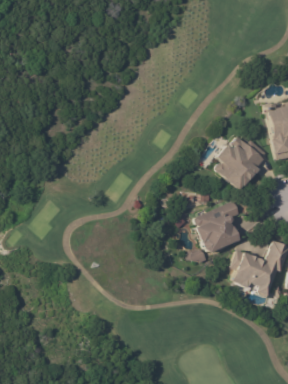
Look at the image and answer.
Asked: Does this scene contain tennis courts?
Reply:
No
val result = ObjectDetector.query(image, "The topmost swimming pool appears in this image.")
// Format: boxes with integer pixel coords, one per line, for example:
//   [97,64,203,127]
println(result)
[265,84,288,98]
